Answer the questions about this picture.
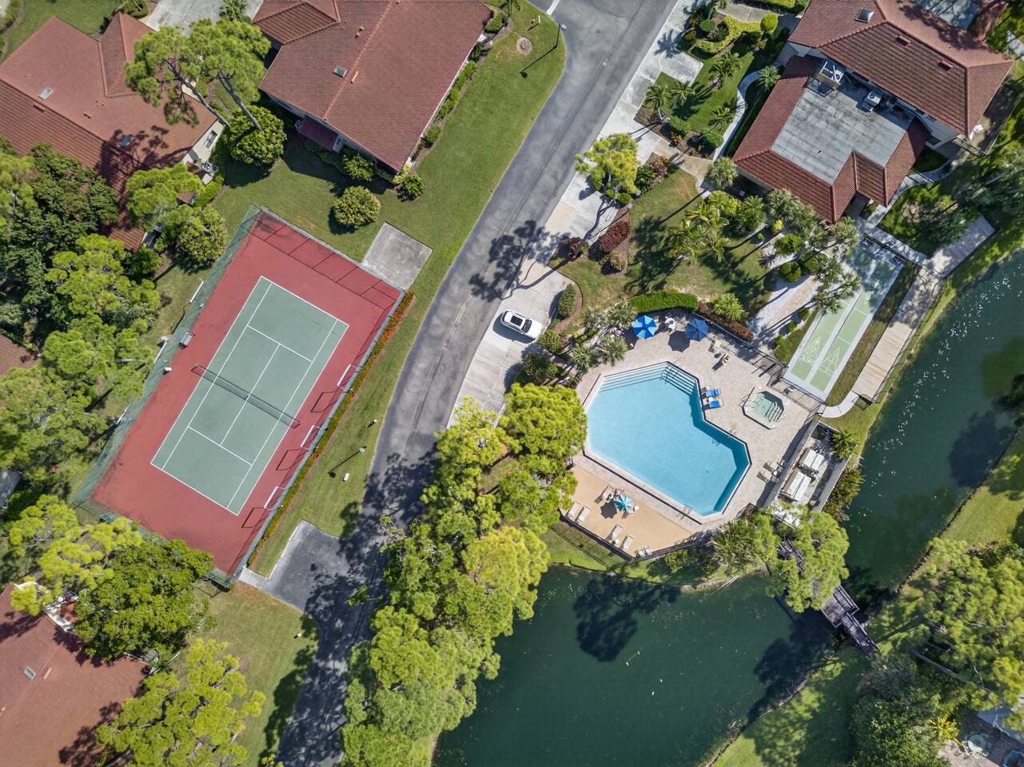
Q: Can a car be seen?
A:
Yes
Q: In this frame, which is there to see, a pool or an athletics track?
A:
pool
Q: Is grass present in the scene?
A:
Yes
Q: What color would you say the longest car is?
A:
white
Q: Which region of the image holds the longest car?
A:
center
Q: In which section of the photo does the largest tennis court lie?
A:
left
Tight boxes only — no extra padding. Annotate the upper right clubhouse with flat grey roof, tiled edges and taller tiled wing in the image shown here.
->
[734,0,1014,221]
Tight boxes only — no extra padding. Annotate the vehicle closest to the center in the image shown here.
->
[500,308,543,339]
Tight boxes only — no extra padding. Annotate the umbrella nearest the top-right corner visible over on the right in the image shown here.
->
[684,317,708,341]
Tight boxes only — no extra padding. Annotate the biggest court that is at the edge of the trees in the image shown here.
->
[95,217,405,576]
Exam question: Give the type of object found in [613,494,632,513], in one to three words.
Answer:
umbrella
